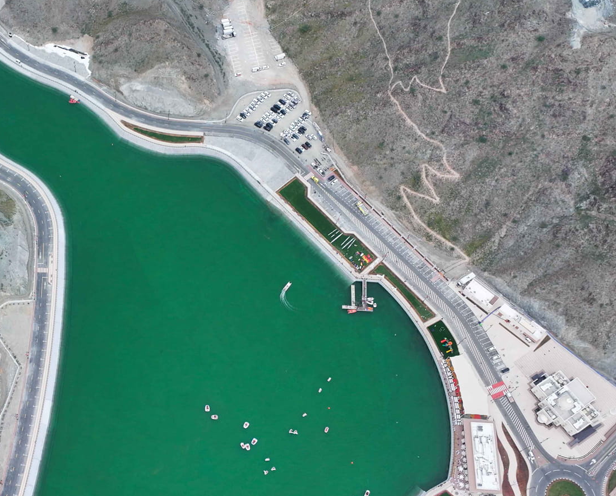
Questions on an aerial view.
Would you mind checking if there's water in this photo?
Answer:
Yes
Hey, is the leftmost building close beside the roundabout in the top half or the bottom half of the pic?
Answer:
bottom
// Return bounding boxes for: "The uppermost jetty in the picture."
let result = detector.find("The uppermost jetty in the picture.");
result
[342,280,373,312]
